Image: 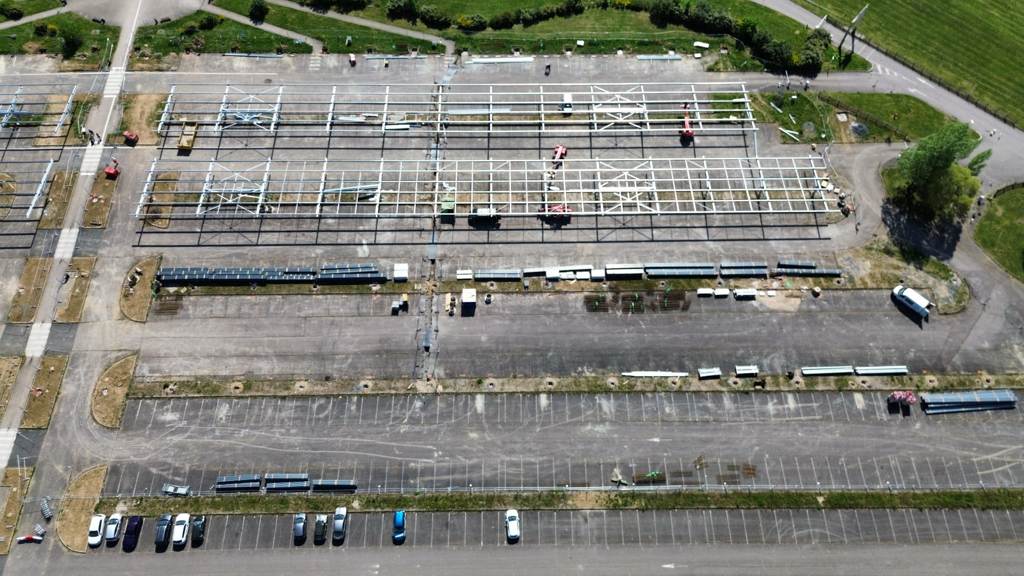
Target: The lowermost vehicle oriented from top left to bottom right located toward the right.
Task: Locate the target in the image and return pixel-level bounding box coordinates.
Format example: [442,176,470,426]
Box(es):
[891,287,937,321]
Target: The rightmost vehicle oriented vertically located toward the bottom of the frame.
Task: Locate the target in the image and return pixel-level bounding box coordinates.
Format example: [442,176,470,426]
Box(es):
[506,510,520,541]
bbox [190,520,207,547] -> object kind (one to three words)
car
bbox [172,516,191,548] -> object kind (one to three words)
car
